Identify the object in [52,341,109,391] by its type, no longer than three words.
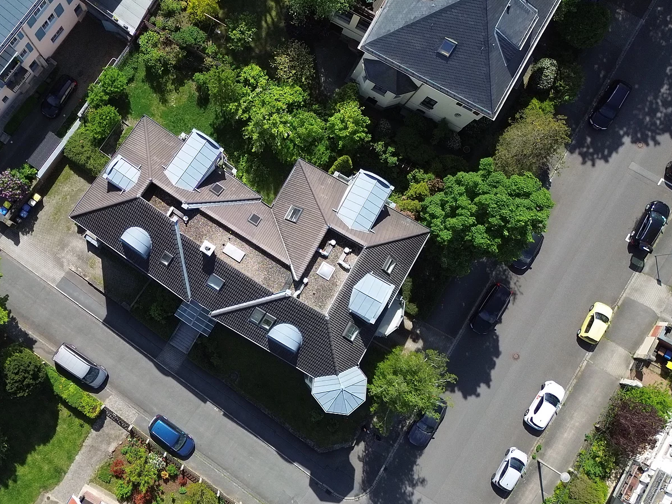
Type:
car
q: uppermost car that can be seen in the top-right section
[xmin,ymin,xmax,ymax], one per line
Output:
[589,77,634,131]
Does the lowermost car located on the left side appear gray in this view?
No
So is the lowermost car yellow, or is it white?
white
